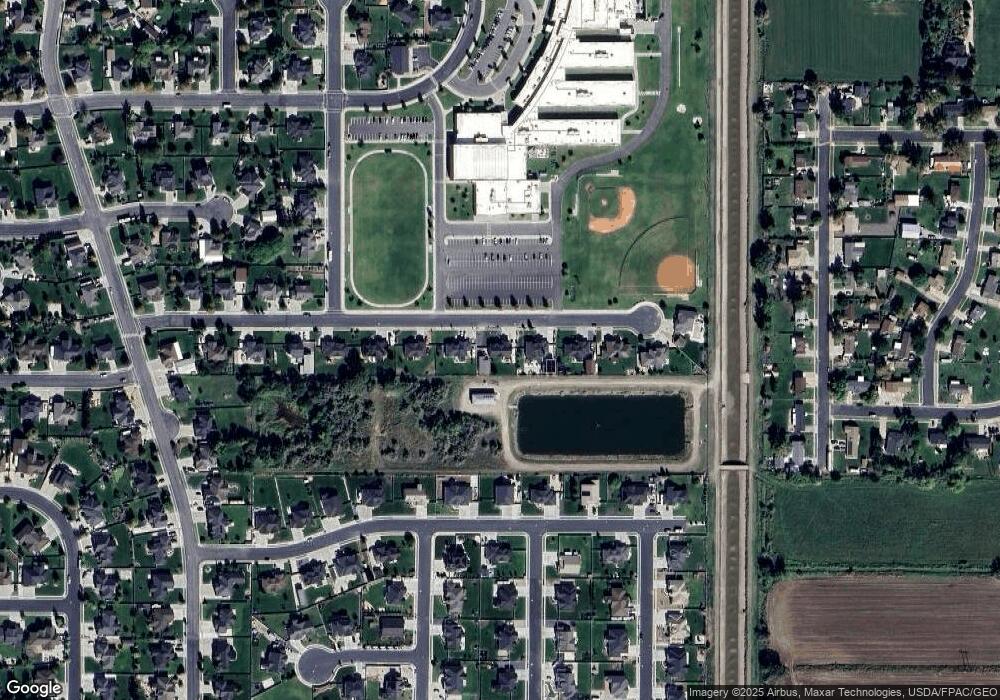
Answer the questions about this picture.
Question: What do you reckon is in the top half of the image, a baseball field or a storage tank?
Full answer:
What appears in the top half of the image is a baseball field.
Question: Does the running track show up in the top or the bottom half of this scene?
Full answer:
It is in the top half that the running track appears.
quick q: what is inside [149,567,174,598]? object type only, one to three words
house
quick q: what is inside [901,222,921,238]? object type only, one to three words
shed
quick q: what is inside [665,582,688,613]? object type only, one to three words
house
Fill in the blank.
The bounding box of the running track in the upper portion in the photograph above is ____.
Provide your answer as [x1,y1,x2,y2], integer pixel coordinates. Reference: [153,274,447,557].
[350,149,429,307]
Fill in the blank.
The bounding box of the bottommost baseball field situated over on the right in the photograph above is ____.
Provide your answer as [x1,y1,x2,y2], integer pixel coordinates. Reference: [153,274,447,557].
[620,218,694,292]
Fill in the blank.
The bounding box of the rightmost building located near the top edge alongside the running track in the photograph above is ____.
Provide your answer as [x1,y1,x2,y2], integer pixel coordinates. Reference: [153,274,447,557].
[451,0,641,217]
